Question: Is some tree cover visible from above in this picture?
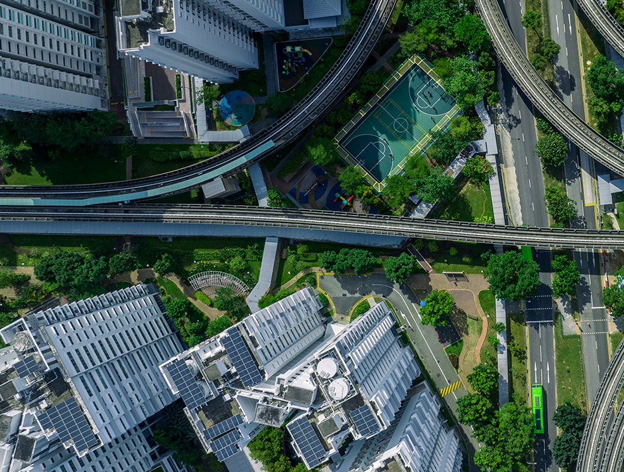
Yes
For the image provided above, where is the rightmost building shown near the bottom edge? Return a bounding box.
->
[370,377,470,472]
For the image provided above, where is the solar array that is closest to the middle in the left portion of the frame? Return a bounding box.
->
[222,328,263,387]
